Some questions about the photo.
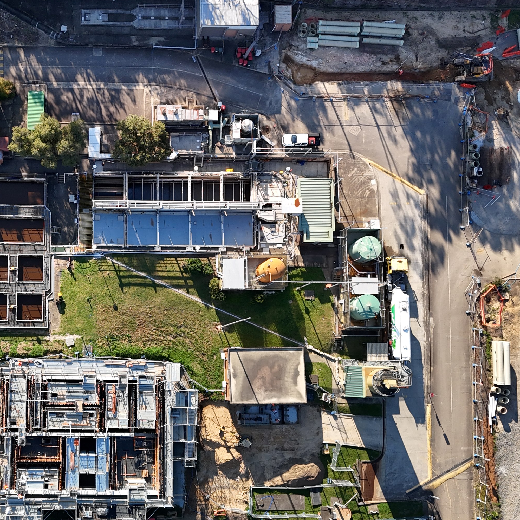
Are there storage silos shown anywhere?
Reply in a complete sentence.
Yes, you can see a storage silo in this photo.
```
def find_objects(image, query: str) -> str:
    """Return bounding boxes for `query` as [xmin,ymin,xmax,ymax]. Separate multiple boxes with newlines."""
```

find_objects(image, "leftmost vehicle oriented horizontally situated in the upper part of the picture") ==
[283,132,319,148]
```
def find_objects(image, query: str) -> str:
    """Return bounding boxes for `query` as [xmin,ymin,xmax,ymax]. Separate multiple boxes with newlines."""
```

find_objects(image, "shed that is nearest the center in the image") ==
[216,257,248,291]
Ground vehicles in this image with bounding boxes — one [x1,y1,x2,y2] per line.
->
[438,51,493,82]
[283,132,319,148]
[385,251,410,360]
[219,426,251,449]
